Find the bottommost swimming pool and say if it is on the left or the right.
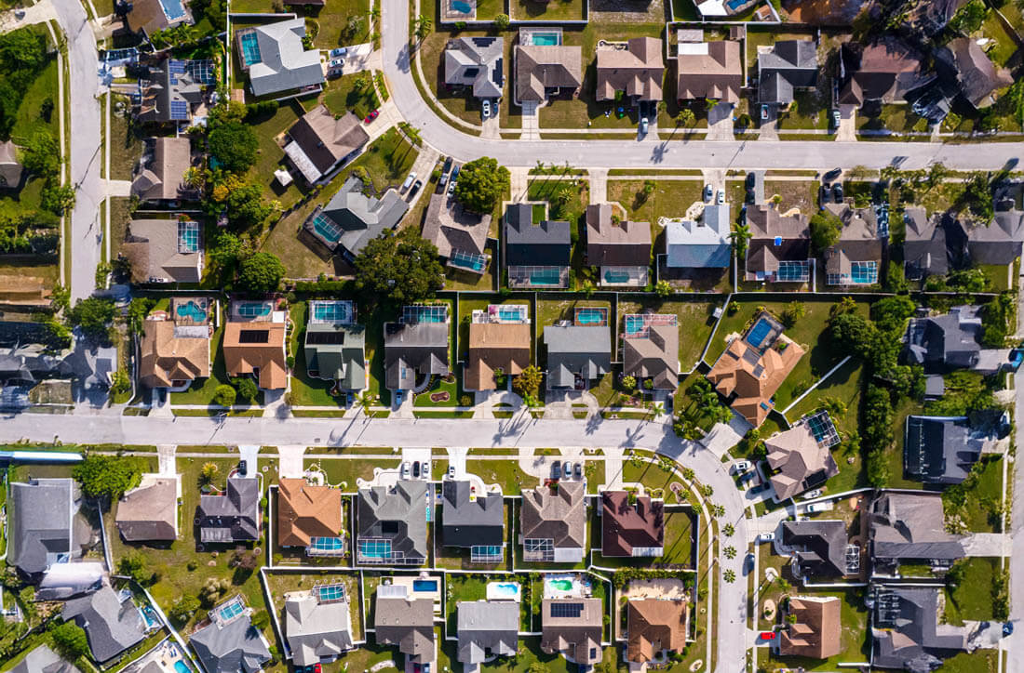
left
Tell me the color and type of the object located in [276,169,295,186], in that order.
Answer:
white gazebo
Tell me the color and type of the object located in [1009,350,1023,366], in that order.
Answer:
blue car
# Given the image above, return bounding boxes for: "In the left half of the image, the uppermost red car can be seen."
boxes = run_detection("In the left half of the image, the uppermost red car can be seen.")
[365,109,379,124]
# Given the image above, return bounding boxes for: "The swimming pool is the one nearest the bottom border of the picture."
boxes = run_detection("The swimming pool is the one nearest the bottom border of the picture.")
[145,637,201,673]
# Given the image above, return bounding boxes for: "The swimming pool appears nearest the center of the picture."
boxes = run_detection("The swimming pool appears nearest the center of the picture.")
[472,305,527,324]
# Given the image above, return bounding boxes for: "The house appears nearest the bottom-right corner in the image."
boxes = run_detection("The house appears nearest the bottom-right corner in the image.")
[870,587,966,669]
